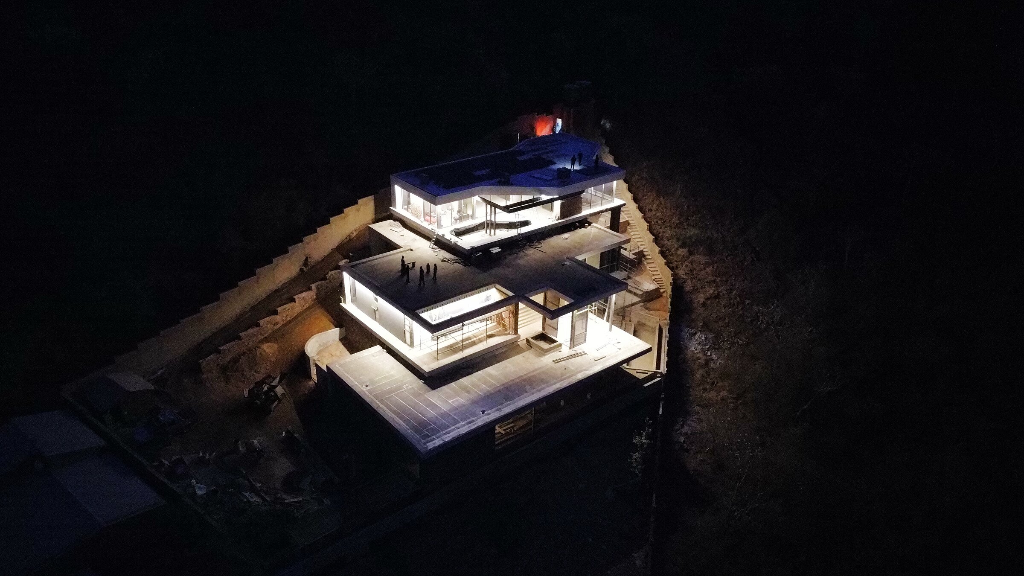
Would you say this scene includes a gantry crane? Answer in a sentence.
No, I can see no gantry crane in this picture.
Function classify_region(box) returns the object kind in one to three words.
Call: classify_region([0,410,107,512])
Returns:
house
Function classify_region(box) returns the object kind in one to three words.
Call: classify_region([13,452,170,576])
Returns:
house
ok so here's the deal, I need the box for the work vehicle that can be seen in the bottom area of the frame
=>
[238,369,306,412]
